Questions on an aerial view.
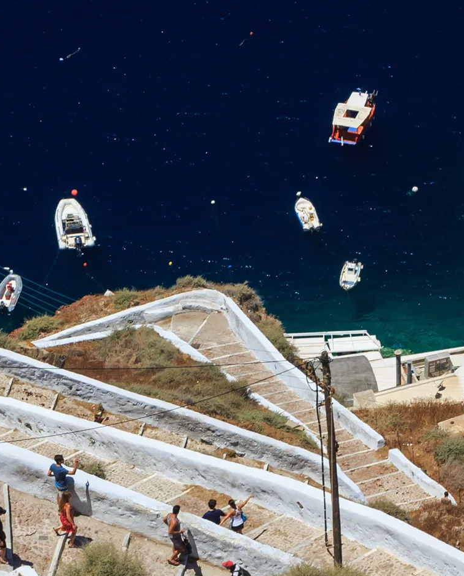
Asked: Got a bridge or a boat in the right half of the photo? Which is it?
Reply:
boat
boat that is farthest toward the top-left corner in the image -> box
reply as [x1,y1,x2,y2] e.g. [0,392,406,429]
[52,196,98,257]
